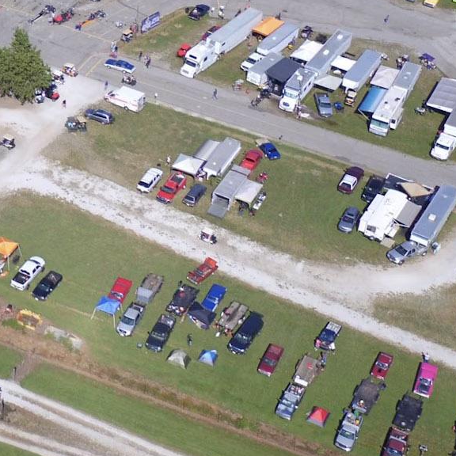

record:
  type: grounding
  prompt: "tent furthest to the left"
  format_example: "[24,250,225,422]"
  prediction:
[165,348,191,371]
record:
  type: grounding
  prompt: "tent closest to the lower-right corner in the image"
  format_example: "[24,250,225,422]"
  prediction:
[305,407,331,427]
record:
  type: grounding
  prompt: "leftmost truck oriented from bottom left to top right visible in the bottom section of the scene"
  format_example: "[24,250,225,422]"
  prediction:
[12,257,43,293]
